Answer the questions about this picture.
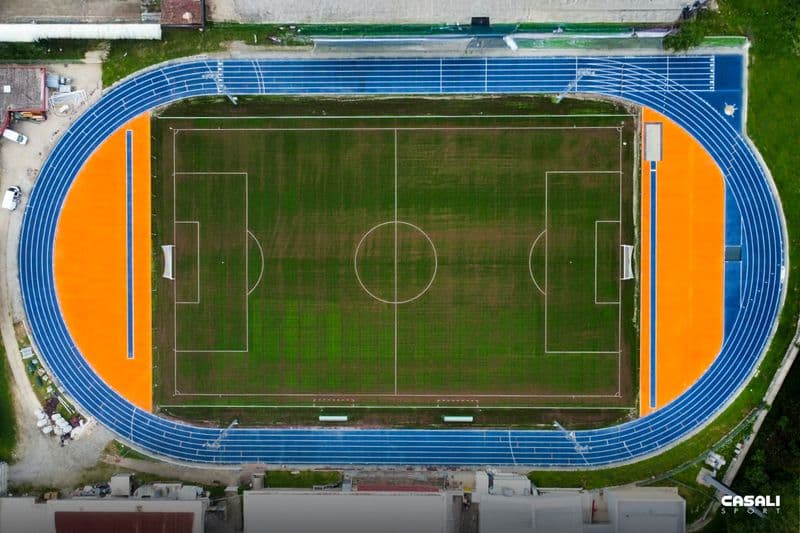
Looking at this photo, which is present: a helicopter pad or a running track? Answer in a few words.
running track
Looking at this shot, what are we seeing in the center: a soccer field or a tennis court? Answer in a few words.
soccer field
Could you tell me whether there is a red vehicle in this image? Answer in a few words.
No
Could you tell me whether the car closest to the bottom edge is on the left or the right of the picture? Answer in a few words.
left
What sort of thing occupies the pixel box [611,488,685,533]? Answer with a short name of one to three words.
building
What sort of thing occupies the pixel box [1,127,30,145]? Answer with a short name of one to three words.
vehicle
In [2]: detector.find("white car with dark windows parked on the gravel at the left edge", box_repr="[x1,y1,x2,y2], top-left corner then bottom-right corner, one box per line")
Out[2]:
[2,187,23,211]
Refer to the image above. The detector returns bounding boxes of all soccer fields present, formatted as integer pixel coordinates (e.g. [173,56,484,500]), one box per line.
[173,127,621,406]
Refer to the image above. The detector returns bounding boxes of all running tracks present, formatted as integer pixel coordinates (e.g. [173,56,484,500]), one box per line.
[18,55,784,465]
